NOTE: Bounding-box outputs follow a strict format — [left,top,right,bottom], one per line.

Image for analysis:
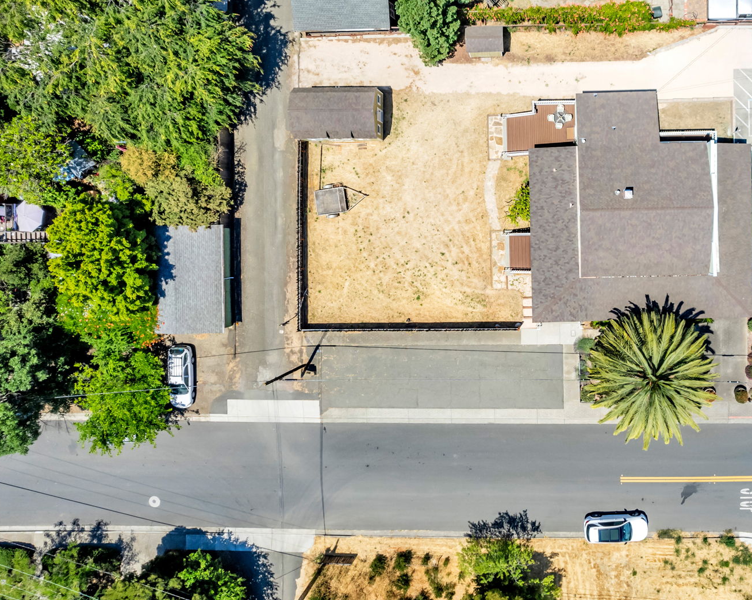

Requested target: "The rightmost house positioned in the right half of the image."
[528,91,752,324]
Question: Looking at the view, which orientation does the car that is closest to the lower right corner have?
from left to right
